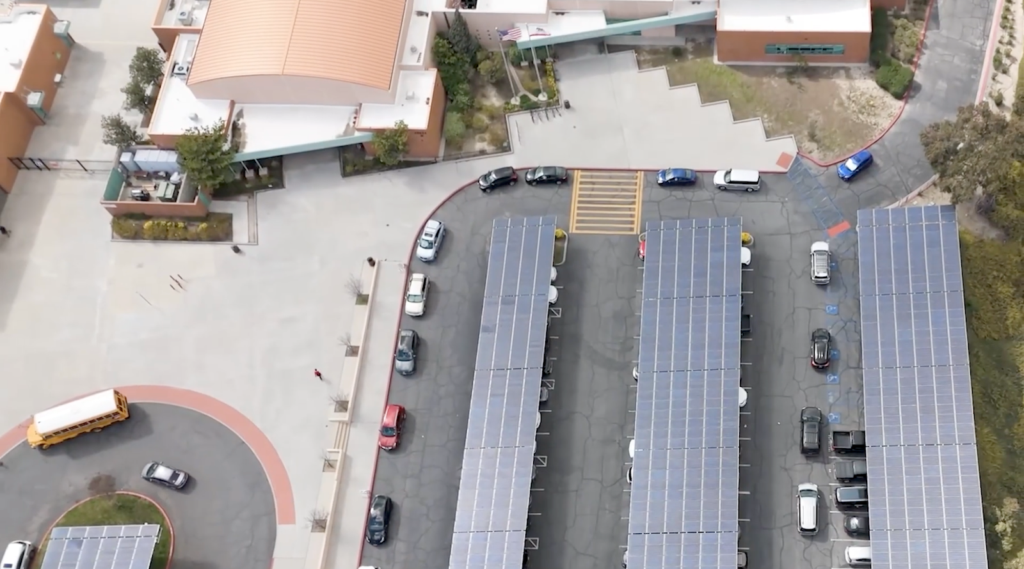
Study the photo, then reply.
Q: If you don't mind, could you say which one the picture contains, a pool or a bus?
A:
bus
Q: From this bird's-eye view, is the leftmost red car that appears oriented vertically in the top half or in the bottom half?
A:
bottom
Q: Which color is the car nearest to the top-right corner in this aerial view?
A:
blue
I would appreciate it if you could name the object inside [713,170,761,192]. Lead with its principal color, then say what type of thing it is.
white vehicle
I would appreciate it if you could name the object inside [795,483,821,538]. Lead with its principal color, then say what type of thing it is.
white car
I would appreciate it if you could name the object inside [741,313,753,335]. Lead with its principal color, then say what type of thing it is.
black vehicle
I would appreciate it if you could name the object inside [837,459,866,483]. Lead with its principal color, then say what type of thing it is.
gray truck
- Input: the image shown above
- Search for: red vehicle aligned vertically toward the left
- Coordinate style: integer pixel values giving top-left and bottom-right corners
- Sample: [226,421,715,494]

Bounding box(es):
[379,404,405,451]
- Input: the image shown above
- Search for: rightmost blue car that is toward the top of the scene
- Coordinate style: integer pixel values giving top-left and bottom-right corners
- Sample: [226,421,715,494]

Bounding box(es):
[834,148,879,182]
